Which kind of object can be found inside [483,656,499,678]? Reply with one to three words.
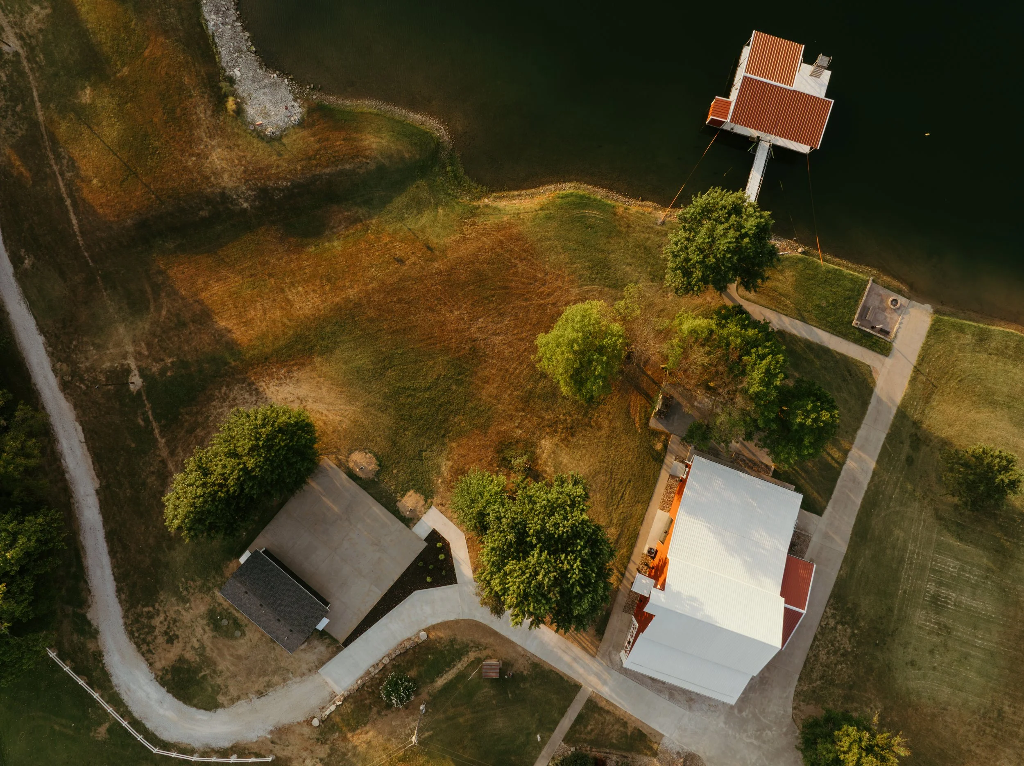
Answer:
building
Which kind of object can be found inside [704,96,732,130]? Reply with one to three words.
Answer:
shed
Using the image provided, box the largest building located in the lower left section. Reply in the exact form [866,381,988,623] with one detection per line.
[219,544,335,655]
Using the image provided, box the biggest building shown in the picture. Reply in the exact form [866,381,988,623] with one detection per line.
[618,455,817,706]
